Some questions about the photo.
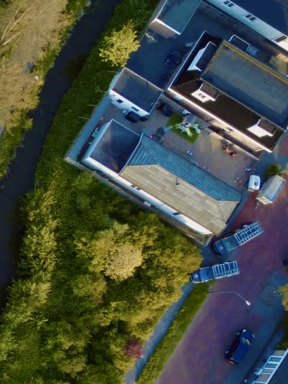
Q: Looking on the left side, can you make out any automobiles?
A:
No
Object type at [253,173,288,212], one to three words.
trailer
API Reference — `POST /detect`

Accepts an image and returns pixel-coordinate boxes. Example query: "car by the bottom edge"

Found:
[222,326,254,366]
